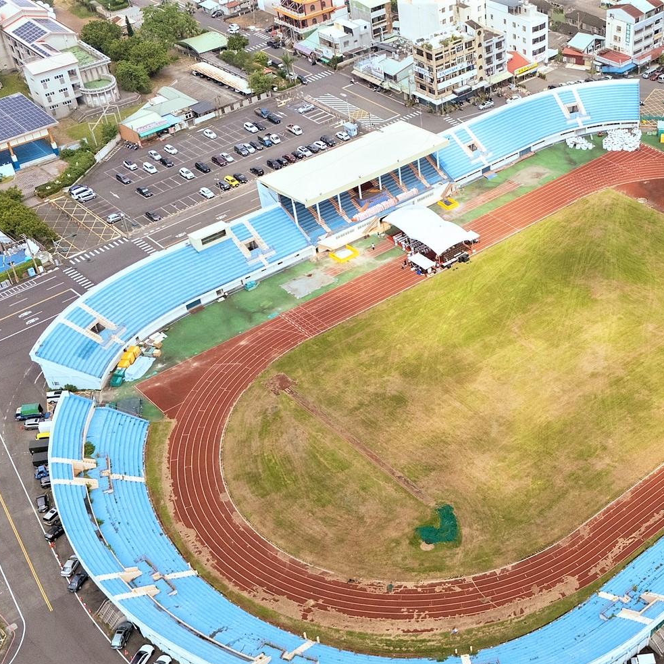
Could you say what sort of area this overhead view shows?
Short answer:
sports ground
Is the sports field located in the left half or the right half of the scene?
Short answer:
right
